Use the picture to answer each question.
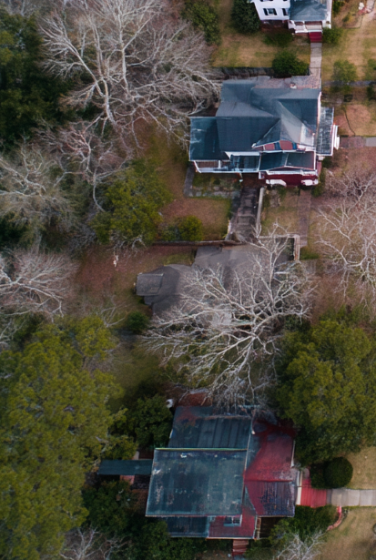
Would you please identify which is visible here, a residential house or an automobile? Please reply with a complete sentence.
Visible in the photo is a residential house.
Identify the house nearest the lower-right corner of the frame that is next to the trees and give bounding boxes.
[96,393,328,560]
